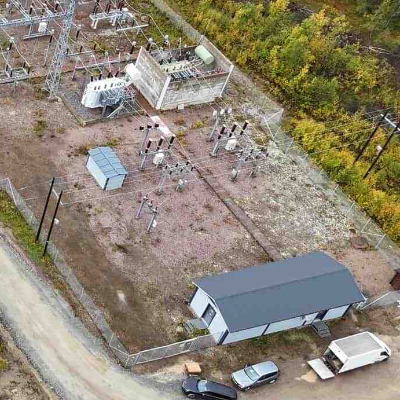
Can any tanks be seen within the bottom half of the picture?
No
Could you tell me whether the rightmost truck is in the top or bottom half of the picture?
bottom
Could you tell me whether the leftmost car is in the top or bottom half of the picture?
bottom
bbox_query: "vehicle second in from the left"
[231,364,286,392]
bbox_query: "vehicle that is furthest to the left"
[183,376,242,400]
